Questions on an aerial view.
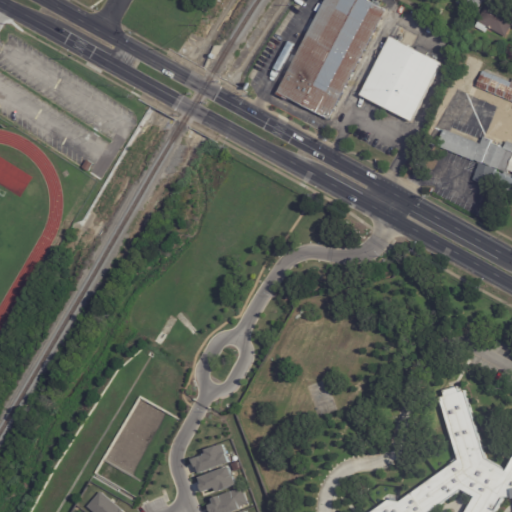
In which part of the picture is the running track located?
left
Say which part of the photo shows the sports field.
left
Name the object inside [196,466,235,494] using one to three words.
house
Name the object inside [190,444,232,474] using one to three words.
house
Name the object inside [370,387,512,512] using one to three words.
building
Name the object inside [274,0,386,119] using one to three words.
warehouse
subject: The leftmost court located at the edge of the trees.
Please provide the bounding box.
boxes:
[308,382,338,414]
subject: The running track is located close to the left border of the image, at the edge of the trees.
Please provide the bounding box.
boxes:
[0,130,63,314]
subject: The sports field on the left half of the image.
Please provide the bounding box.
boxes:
[0,144,48,287]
